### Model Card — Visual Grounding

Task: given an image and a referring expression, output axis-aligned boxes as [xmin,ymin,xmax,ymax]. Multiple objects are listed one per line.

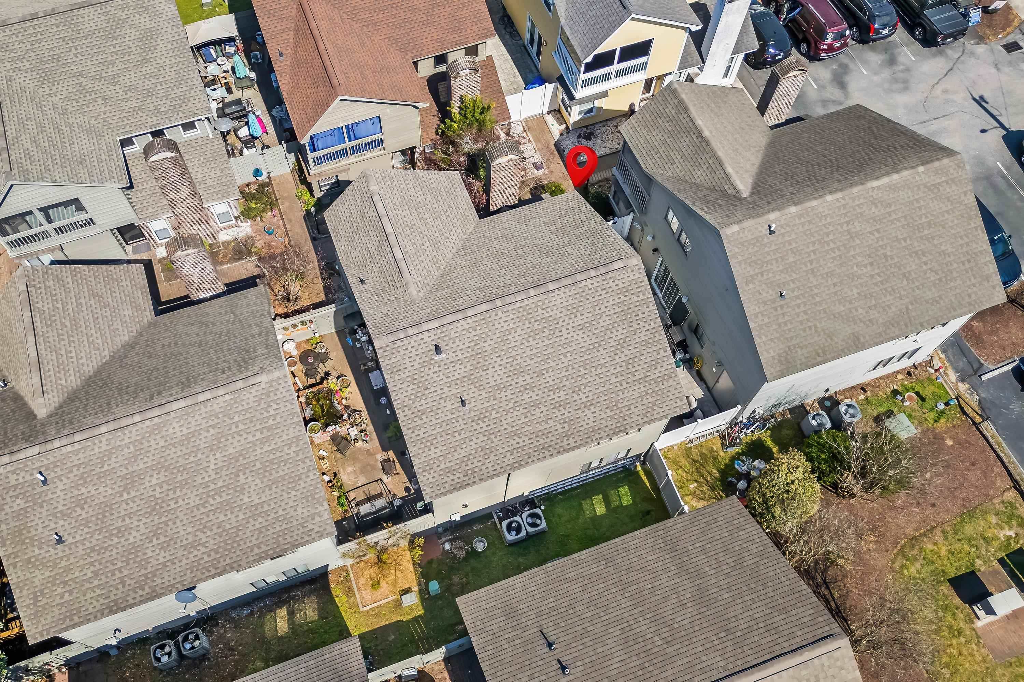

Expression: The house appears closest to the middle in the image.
[325,139,689,531]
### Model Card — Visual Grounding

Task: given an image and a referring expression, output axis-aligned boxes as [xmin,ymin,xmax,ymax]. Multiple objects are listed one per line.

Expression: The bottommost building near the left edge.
[0,228,347,645]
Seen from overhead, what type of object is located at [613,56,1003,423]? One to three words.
house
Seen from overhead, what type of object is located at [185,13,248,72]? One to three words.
tent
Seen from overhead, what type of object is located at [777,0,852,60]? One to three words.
car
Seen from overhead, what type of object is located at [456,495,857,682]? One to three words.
house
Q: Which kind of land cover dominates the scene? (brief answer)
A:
buildings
